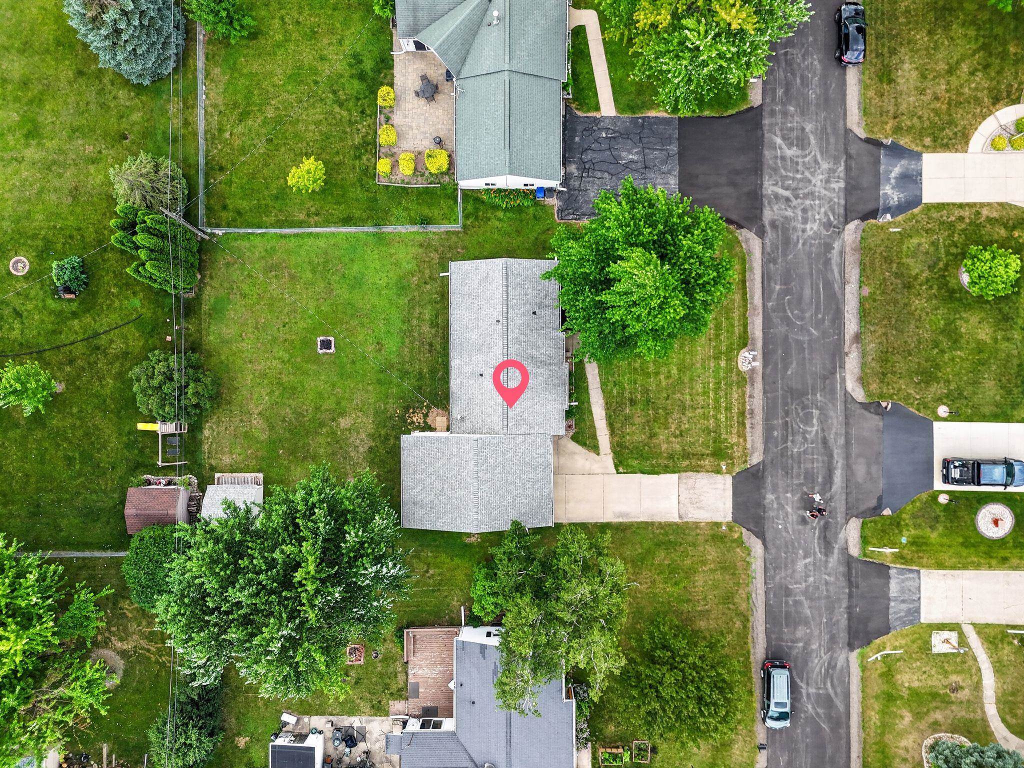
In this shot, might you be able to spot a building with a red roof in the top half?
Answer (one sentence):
No, no building with a red roof is visible in the top half.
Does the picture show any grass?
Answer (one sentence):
Yes, there's grass in this view.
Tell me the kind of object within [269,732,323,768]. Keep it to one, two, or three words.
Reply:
shed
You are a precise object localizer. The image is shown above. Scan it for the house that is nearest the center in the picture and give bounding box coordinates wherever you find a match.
[400,256,578,533]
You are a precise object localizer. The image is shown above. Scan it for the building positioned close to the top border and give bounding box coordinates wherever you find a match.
[391,0,571,190]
